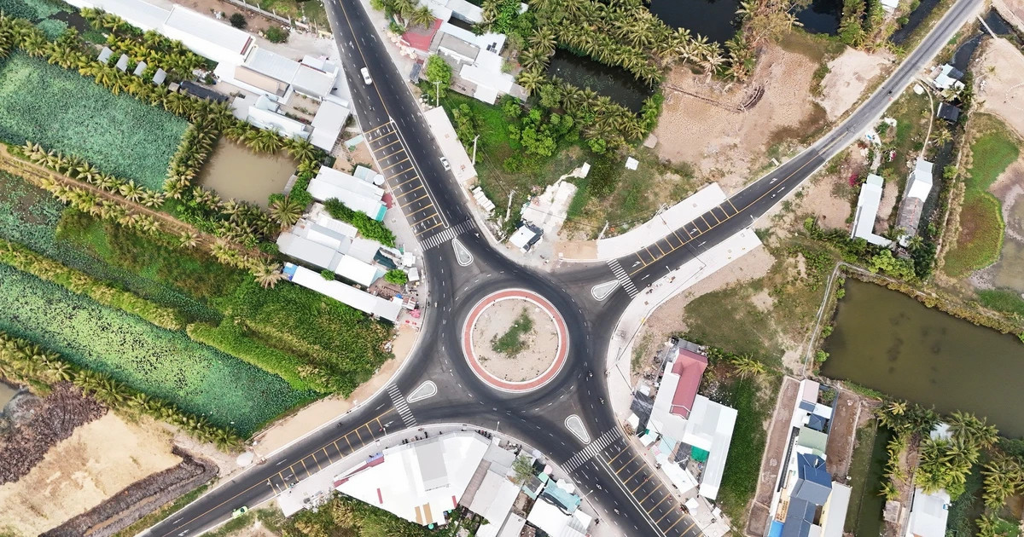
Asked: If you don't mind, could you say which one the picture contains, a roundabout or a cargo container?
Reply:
roundabout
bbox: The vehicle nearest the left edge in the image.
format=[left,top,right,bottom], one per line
[229,505,250,521]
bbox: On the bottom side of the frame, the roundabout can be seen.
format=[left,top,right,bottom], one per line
[461,288,568,395]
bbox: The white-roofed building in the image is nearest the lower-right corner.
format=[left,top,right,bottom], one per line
[903,487,950,537]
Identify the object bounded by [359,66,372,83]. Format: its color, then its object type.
white vehicle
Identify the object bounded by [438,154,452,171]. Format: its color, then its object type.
white car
